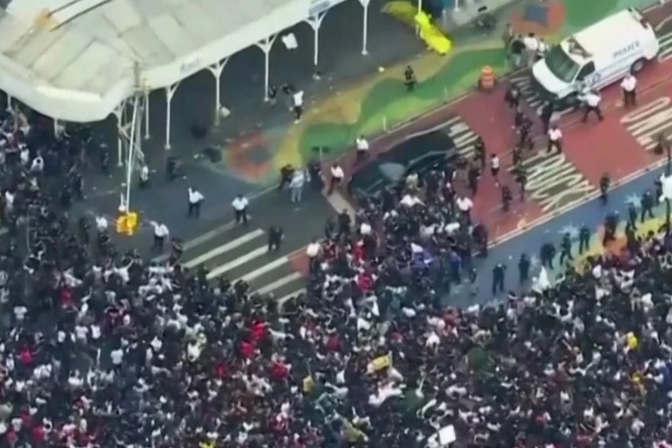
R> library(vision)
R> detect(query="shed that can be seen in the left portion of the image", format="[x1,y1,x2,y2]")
[0,0,373,177]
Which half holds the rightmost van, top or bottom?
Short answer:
top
